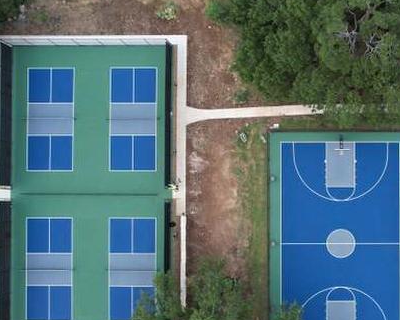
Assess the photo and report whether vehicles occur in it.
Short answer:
No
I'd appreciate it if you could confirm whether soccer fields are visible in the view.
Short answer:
No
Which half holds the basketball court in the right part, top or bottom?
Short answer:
bottom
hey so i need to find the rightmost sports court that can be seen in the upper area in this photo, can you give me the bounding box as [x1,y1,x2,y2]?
[110,68,157,171]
